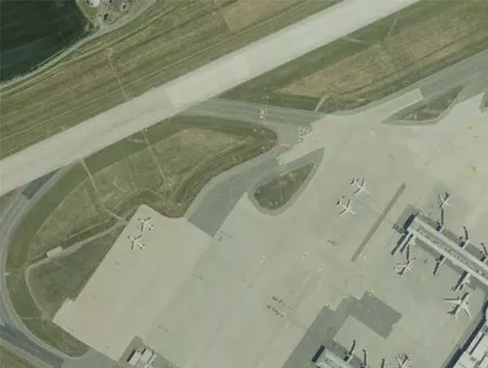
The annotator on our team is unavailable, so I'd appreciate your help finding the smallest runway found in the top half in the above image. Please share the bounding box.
[168,47,260,110]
